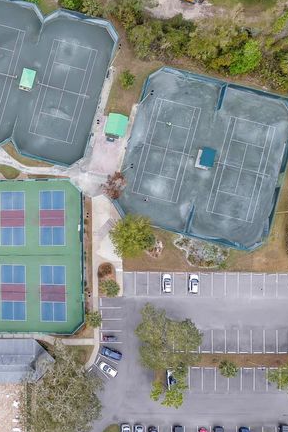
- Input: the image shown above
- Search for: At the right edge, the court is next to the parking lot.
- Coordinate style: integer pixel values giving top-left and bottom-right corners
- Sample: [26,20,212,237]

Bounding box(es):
[180,88,288,249]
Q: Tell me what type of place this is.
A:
sports ground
